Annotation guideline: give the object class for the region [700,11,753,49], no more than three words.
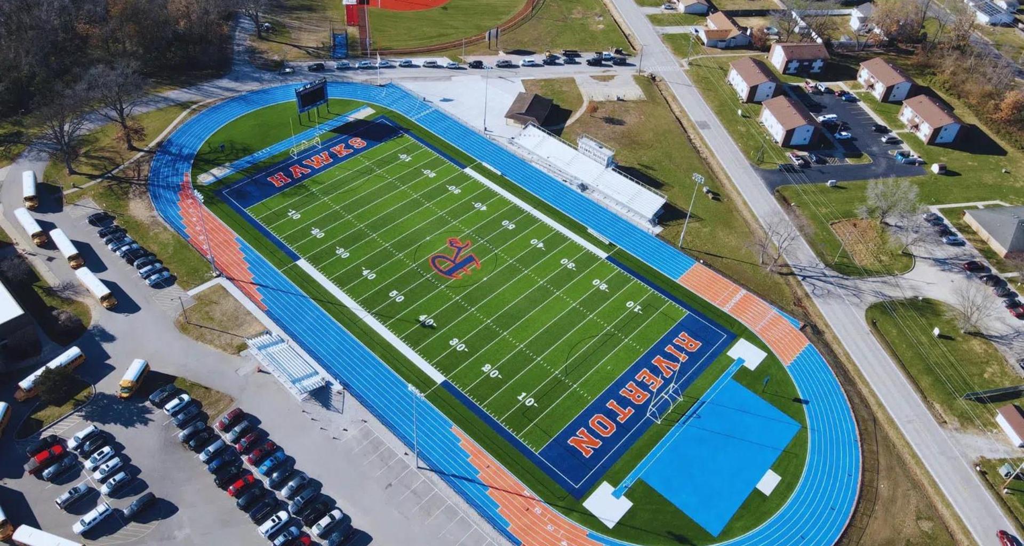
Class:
house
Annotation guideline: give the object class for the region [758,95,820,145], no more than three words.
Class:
building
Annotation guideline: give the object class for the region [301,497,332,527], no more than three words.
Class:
car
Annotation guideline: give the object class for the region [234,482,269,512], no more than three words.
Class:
van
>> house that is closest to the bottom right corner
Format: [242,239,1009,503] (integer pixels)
[994,400,1024,448]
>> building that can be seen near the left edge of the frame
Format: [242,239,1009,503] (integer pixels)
[0,280,39,357]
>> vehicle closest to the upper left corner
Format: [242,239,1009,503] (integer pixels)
[23,171,42,212]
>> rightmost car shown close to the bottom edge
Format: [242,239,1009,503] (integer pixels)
[994,526,1019,546]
